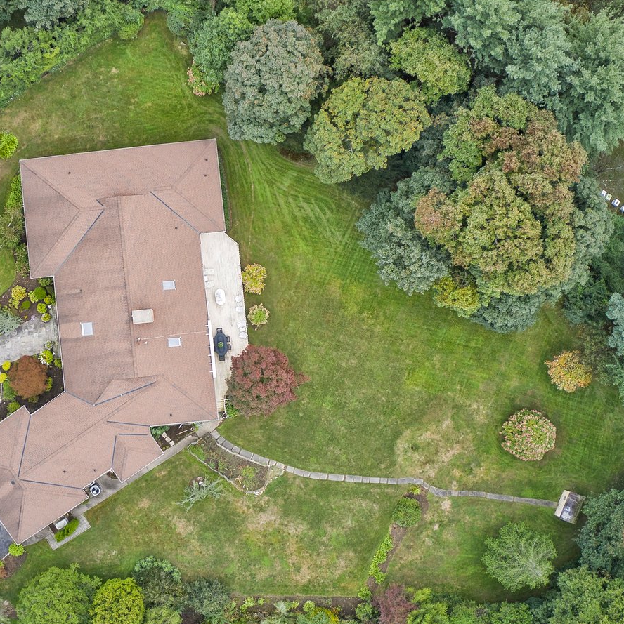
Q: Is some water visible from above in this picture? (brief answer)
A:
No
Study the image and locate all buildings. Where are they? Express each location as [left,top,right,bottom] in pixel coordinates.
[0,137,226,546]
[555,490,584,524]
